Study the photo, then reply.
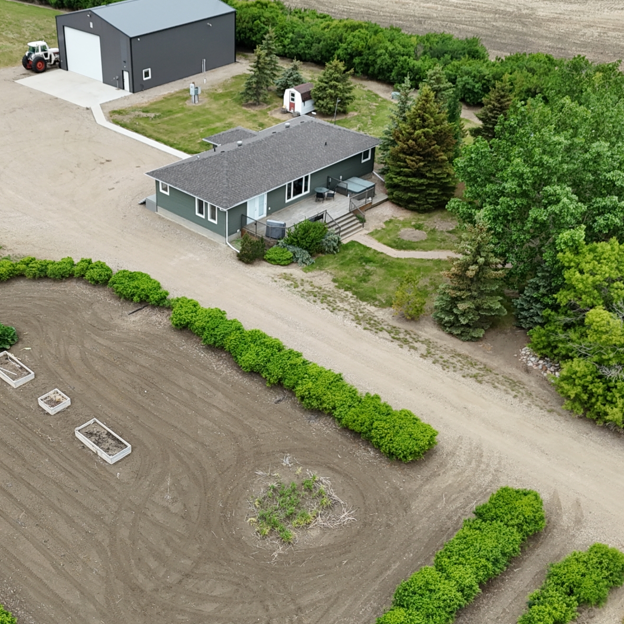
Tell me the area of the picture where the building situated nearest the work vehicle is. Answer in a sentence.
Look in the top left portion of the view to spot the building situated nearest the work vehicle.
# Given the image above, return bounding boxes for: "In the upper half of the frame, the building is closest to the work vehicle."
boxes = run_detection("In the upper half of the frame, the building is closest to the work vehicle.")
[54,0,237,93]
